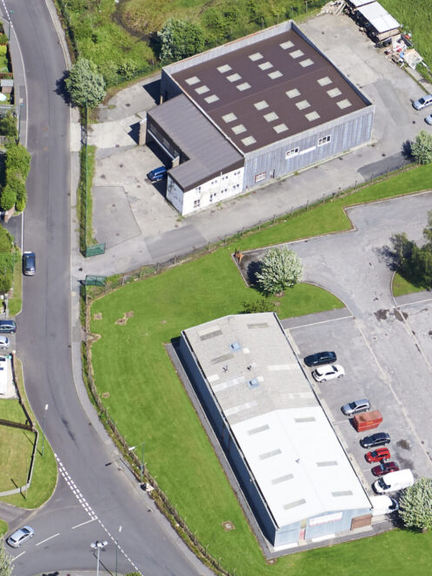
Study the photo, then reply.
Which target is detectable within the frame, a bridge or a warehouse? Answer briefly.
warehouse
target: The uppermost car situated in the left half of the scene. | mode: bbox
[144,166,171,183]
